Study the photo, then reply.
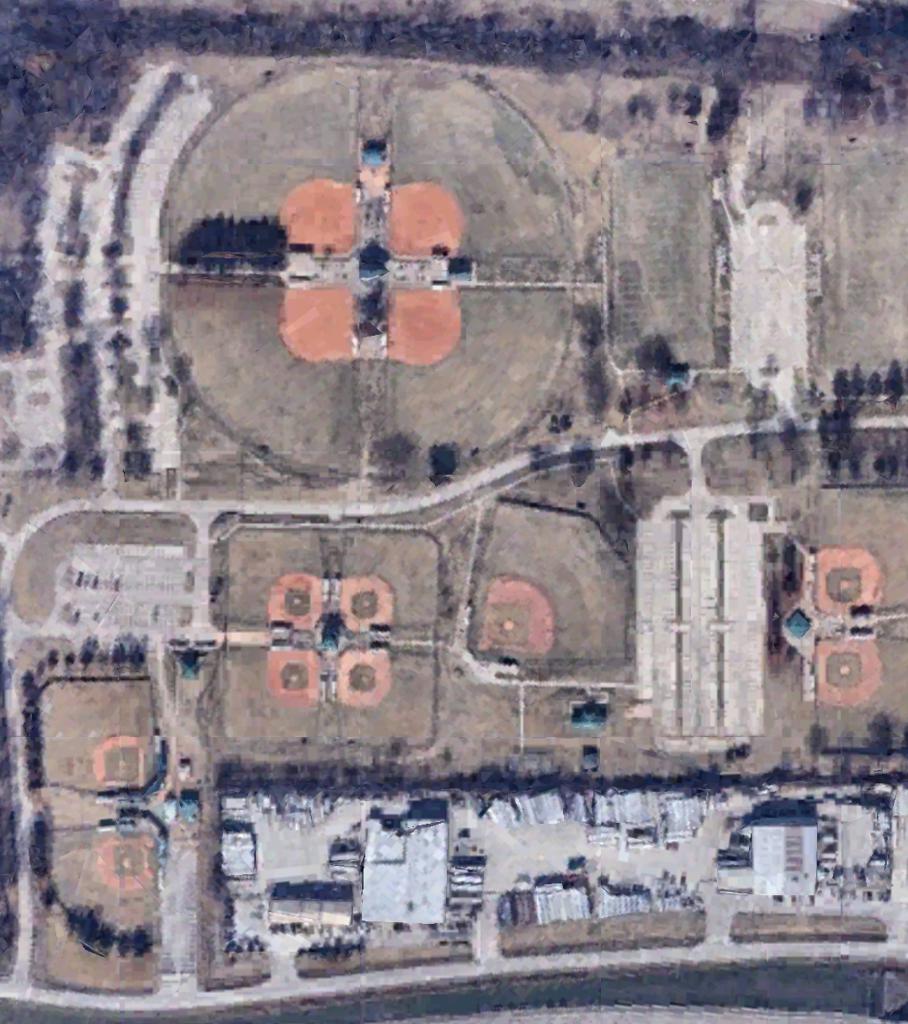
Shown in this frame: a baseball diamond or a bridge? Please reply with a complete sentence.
Visible in the photo is a baseball diamond.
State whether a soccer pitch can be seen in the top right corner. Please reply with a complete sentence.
Yes, looking in the top right corner, one can make out a soccer pitch.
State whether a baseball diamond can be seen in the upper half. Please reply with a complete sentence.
Yes, you'll find a baseball diamond in the upper half.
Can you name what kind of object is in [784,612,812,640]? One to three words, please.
building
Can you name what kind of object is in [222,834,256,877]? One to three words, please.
building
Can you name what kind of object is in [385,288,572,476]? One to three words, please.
baseball field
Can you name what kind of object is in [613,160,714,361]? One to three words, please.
soccer field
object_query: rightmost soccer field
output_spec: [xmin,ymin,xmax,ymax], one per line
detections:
[823,157,908,366]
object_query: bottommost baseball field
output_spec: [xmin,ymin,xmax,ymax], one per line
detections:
[472,502,637,661]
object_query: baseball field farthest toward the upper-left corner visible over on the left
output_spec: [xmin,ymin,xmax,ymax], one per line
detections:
[166,70,360,259]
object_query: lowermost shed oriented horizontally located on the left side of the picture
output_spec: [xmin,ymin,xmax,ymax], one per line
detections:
[269,896,353,925]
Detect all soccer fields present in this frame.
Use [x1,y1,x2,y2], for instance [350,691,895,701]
[613,160,714,361]
[823,157,908,366]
